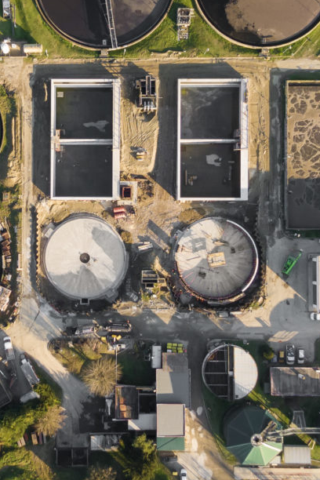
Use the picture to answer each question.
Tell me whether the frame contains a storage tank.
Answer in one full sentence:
Yes, the image includes a storage tank.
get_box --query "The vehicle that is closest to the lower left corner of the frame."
[19,356,41,391]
